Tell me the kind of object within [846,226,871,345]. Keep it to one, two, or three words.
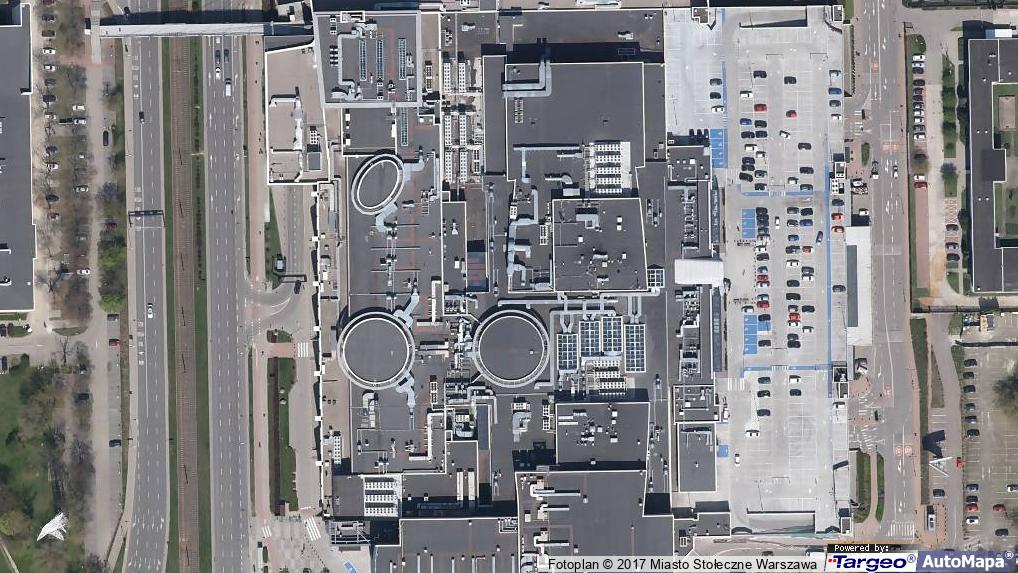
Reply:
building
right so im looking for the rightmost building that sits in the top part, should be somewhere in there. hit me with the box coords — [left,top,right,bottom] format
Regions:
[967,29,1018,292]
